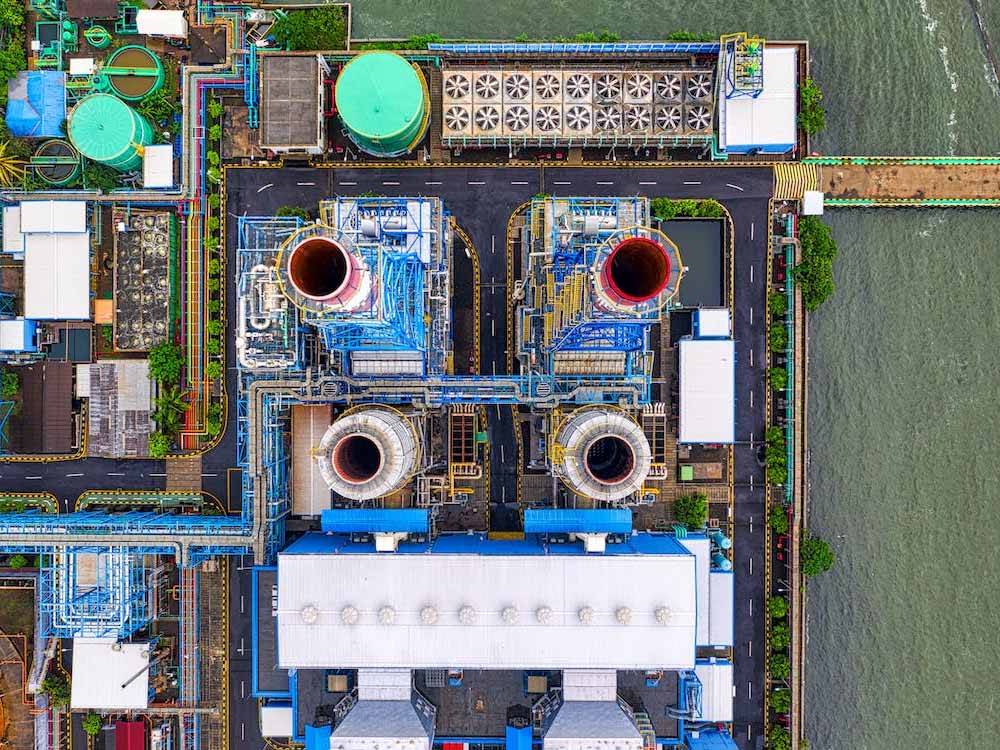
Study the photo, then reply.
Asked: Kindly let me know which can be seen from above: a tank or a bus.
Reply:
tank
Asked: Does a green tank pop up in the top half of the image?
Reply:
Yes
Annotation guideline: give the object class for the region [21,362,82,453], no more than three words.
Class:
shed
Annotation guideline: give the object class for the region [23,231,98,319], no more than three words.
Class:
building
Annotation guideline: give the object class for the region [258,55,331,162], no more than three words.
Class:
building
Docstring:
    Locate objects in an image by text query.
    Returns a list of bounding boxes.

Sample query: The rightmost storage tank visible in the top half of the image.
[335,49,436,162]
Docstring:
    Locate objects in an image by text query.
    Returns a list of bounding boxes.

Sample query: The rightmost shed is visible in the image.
[797,191,823,217]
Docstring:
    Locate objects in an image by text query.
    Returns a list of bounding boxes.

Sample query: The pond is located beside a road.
[660,217,727,307]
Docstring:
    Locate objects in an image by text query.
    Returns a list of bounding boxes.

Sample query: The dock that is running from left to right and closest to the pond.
[803,157,1000,206]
